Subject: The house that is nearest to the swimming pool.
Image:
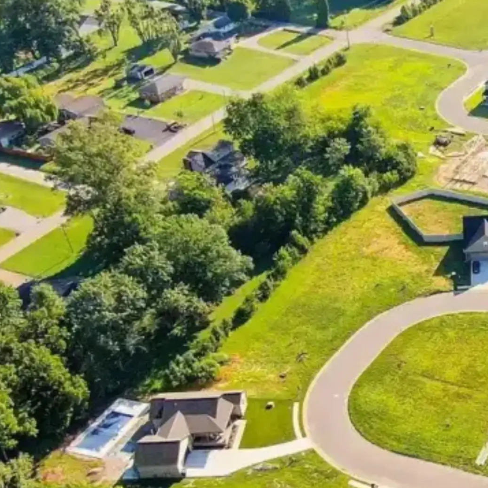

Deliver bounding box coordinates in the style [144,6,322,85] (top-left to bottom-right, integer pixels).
[132,384,267,477]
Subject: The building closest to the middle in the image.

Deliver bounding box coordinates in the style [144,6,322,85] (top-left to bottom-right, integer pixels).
[172,131,242,192]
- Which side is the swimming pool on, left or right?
left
